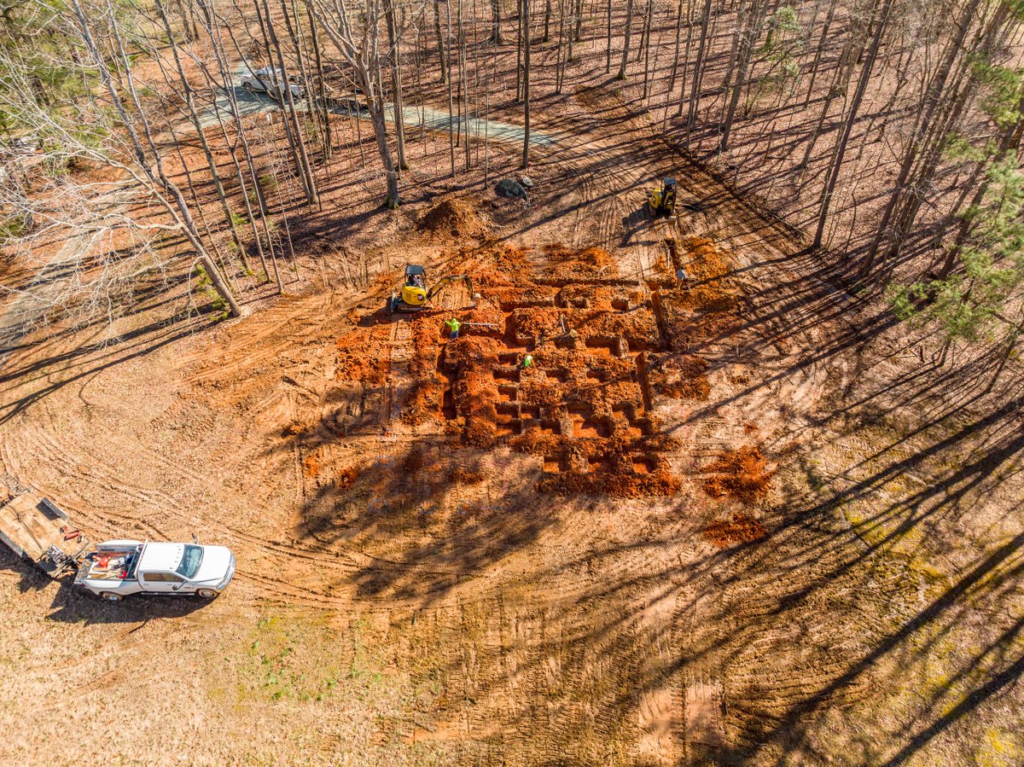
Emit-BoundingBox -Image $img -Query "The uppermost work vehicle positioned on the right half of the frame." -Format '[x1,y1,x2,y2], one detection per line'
[647,178,678,223]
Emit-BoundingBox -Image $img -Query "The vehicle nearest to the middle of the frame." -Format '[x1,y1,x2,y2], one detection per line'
[389,267,475,311]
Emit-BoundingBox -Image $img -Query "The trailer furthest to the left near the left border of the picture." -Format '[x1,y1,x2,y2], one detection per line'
[0,470,93,577]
